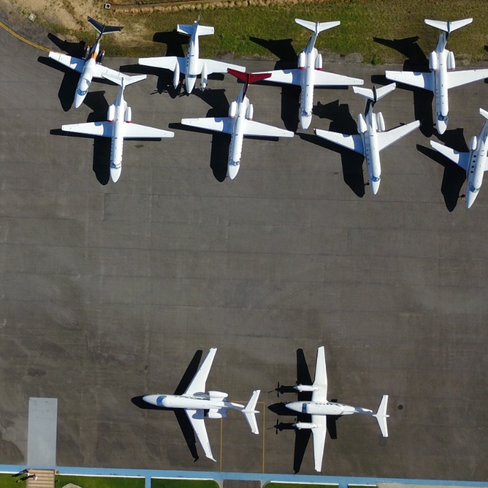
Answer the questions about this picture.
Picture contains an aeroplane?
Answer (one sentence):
Yes, looking at the shot, I can spot an aeroplane.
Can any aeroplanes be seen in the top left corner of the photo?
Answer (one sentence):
Yes, you'll find an aeroplane in the top left corner of the photo.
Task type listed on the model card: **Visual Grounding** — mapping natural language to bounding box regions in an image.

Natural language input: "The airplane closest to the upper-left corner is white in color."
[48,16,129,107]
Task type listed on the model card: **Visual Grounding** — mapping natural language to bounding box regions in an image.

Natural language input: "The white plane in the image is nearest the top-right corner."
[386,17,488,134]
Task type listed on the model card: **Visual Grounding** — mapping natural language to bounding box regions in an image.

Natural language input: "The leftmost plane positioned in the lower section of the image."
[143,349,262,463]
